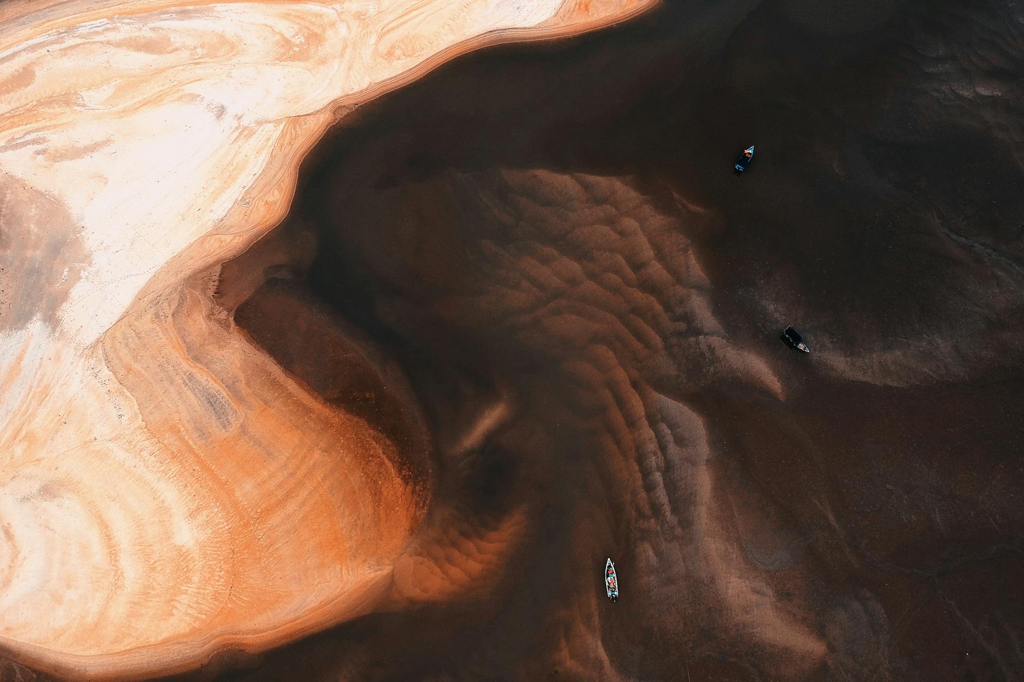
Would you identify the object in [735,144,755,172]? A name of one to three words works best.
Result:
boat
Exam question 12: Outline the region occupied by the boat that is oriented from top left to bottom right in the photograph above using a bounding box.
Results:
[784,325,811,352]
